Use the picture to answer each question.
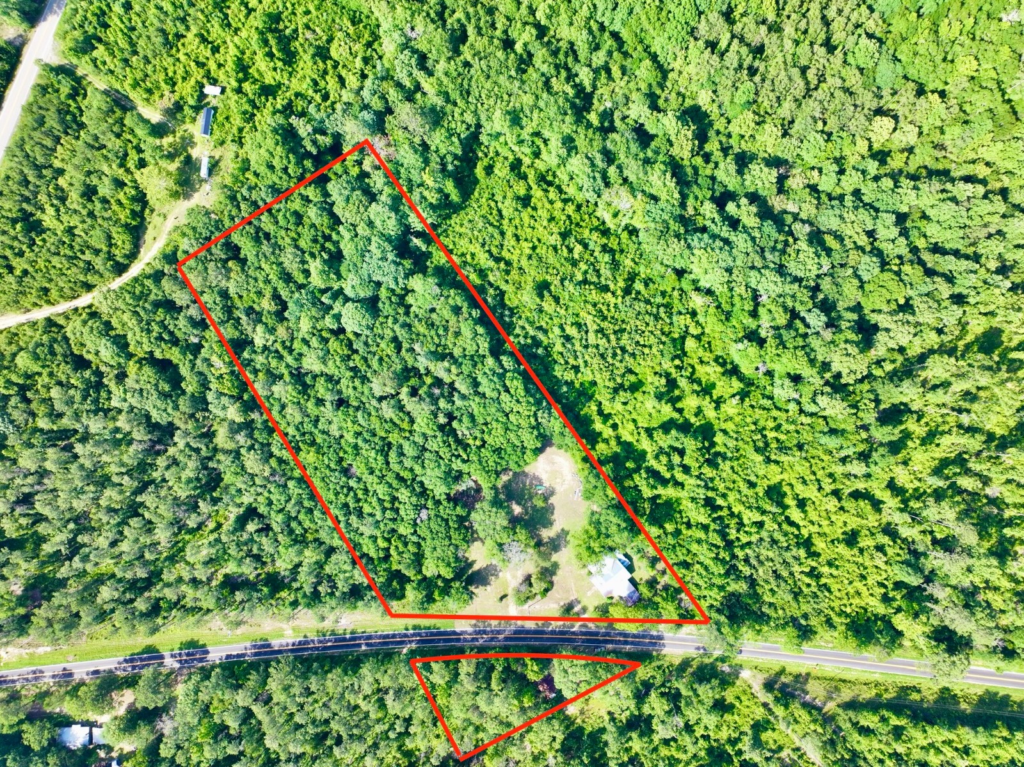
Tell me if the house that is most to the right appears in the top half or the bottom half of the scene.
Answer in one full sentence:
The house that is most to the right is in the bottom half of the image.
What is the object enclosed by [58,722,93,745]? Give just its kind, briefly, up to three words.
house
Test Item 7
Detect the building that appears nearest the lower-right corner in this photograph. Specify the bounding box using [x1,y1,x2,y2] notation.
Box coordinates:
[589,548,640,601]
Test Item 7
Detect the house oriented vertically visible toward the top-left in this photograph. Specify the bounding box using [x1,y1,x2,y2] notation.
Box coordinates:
[200,107,216,138]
